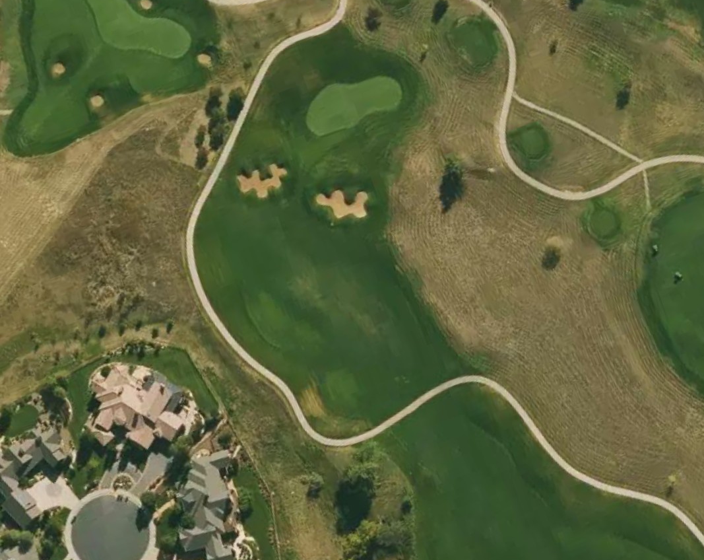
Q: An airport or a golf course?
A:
golf course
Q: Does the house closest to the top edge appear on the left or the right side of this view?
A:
left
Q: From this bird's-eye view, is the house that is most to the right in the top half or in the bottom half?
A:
bottom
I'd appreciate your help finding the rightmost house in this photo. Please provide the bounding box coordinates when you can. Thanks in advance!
[176,447,234,560]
